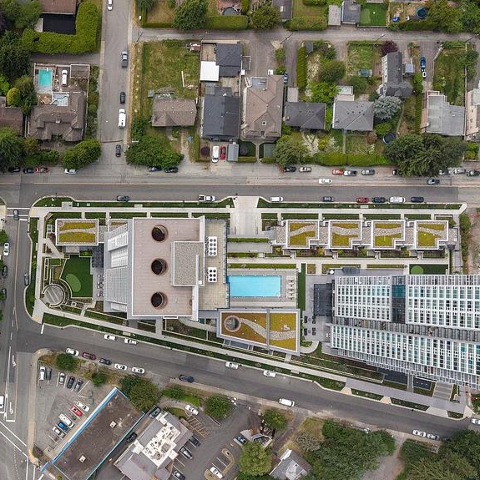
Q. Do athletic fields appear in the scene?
No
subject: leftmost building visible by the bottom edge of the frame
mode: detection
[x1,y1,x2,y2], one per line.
[41,387,144,480]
